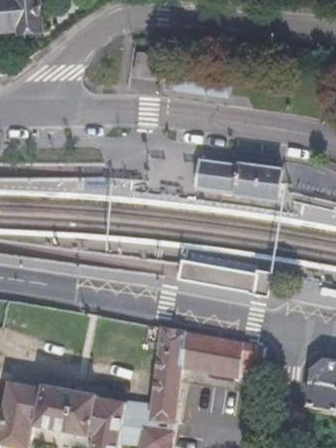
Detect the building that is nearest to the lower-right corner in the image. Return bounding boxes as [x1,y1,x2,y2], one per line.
[304,358,336,414]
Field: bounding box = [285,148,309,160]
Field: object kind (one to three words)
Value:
vehicle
